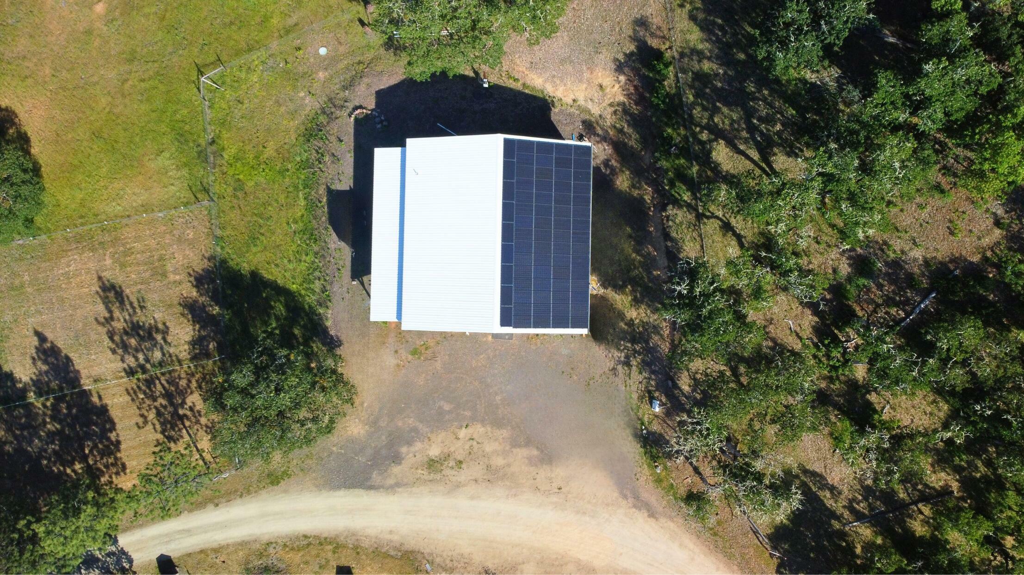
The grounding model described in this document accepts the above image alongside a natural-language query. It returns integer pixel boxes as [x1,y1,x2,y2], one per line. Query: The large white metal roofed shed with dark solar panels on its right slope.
[370,135,594,341]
